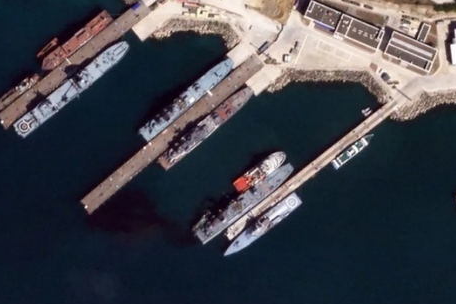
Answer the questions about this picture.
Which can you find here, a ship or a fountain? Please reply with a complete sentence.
Visible in the photo is a ship.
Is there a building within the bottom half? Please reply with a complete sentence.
No, I see no building within the bottom half.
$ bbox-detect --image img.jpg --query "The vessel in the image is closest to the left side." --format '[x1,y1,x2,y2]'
[0,72,41,106]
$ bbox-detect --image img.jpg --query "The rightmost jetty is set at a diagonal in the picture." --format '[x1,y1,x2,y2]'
[227,103,397,241]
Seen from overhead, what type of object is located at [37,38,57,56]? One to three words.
vessel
